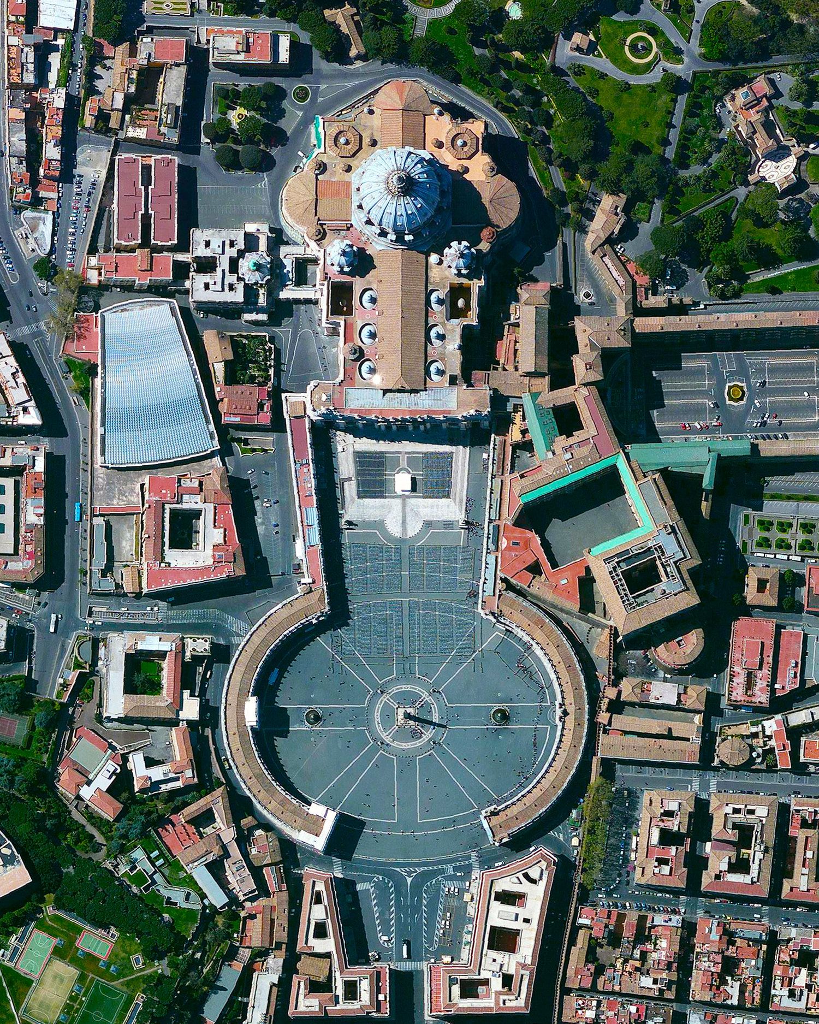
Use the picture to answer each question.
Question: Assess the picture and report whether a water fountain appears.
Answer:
Yes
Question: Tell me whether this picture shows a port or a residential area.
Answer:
residential area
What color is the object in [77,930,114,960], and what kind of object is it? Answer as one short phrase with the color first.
green sports court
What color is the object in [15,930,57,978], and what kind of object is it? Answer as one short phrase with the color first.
green basketball court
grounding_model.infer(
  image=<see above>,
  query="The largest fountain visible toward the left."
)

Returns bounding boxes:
[302,706,324,728]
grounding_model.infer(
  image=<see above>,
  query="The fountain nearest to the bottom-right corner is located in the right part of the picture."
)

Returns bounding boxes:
[489,705,511,727]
